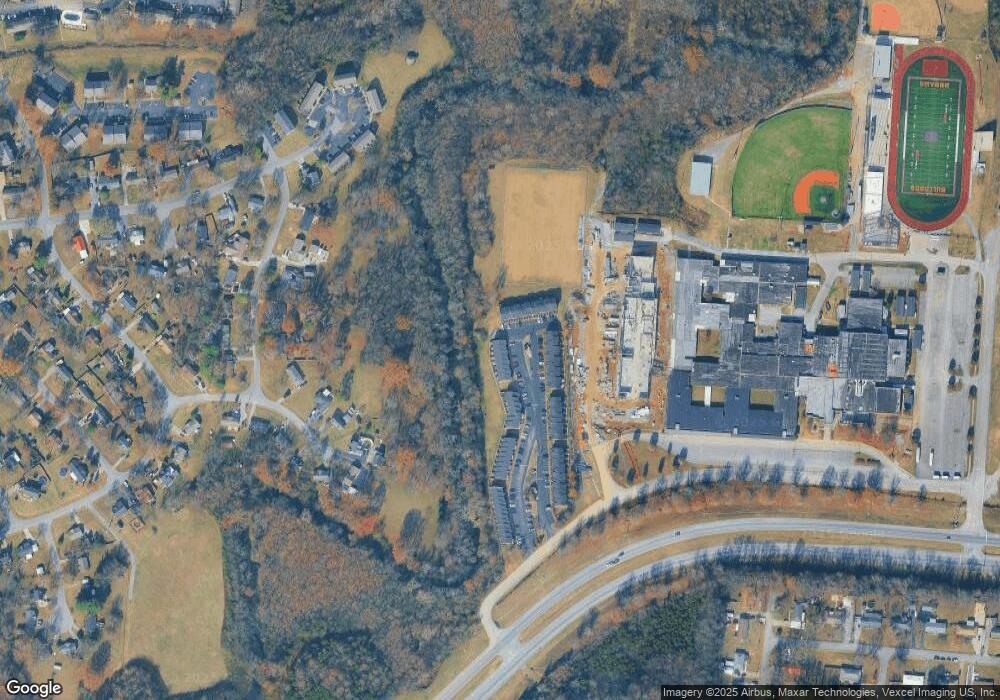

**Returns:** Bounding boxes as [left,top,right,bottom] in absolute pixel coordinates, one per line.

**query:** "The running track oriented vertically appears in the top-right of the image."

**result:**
[887,44,976,231]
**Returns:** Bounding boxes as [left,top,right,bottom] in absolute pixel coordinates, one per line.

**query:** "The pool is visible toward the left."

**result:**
[62,10,86,29]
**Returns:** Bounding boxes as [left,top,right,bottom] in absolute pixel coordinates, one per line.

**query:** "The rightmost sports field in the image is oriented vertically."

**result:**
[895,56,968,223]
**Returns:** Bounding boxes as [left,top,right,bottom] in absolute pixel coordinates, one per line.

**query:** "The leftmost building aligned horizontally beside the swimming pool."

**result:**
[4,11,61,31]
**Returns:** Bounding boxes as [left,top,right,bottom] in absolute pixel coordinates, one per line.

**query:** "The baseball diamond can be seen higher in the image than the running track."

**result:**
[872,3,900,31]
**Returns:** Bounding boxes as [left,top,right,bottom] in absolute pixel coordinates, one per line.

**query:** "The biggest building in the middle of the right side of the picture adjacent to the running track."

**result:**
[666,259,908,438]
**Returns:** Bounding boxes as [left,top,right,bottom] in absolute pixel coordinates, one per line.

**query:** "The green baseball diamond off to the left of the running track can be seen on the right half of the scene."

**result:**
[732,106,851,222]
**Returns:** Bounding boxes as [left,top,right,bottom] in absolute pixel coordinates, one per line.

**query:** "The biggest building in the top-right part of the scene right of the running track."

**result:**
[975,131,996,149]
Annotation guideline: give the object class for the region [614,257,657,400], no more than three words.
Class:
building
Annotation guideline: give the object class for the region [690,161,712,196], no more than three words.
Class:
barn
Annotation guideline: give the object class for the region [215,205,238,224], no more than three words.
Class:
house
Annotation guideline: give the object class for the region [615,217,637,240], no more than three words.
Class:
shed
